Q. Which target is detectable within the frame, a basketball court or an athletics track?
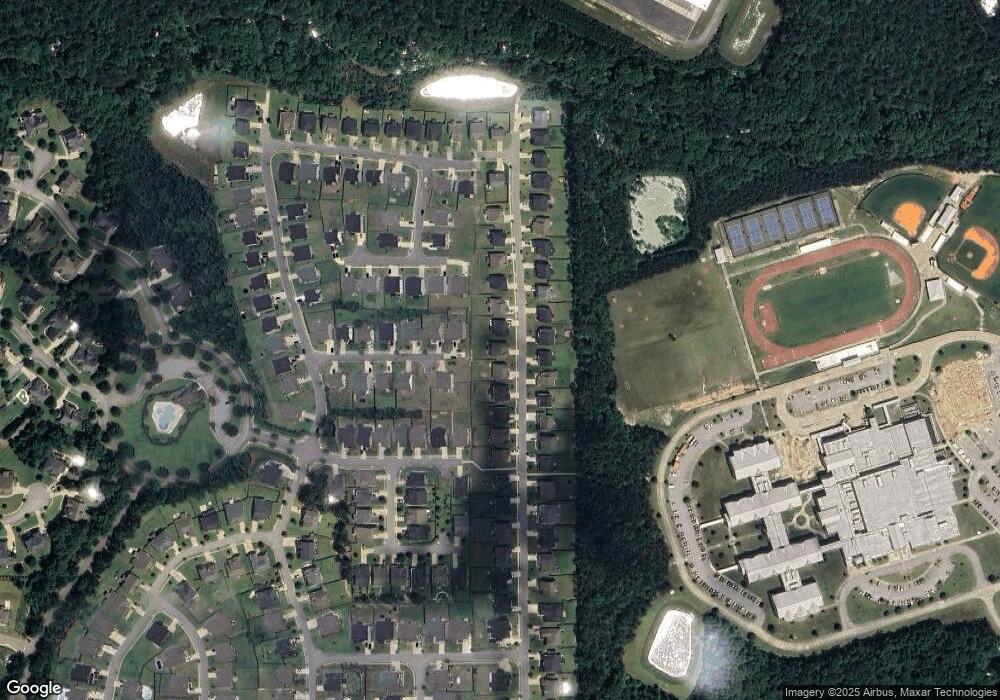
athletics track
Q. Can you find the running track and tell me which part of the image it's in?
right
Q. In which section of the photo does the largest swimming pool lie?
left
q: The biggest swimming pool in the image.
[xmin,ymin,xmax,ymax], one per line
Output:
[152,401,184,433]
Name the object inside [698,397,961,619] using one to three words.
building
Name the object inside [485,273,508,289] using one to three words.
house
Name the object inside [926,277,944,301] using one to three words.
shed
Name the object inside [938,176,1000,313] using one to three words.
baseball field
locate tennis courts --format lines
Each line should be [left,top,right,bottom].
[798,201,817,229]
[816,196,835,225]
[745,218,764,246]
[727,225,746,253]
[781,207,800,235]
[764,212,783,240]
